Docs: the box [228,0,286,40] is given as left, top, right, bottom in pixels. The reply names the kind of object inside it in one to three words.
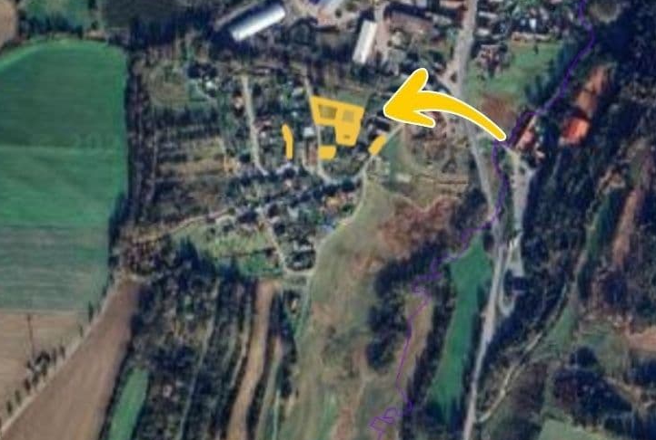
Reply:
barn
